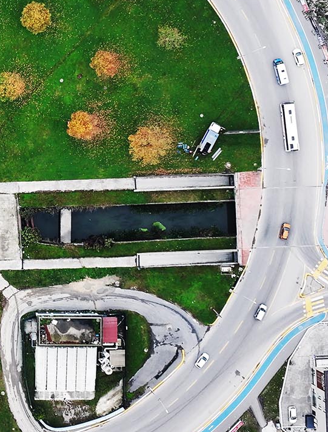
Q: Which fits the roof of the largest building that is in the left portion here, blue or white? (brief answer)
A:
white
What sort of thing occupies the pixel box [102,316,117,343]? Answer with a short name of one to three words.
shed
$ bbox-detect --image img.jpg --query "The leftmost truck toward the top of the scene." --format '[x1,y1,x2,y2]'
[194,121,223,156]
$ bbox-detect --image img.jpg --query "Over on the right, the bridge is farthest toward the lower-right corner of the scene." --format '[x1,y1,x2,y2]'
[232,172,262,269]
